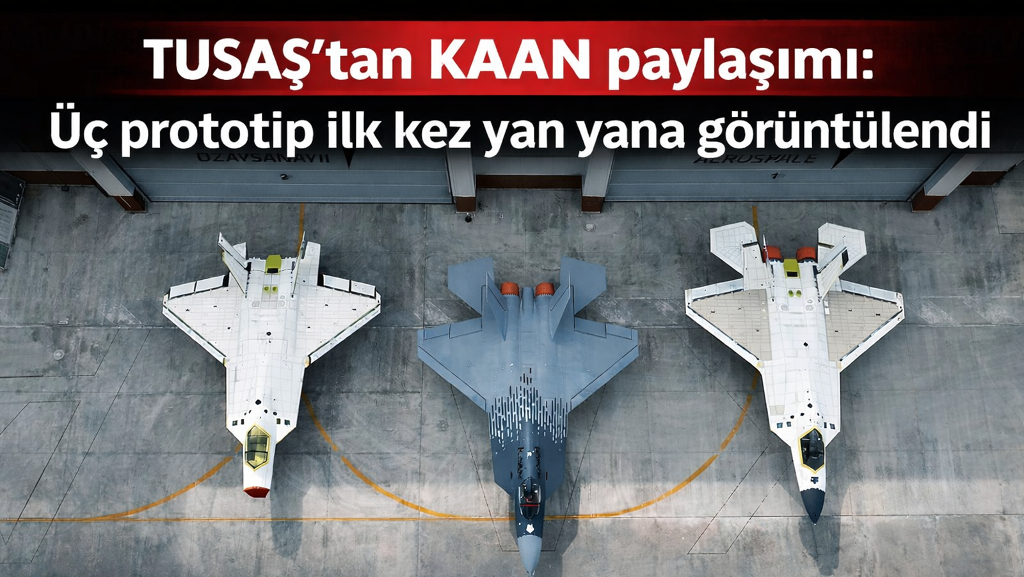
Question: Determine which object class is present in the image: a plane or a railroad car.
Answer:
plane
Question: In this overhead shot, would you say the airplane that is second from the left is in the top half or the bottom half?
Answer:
bottom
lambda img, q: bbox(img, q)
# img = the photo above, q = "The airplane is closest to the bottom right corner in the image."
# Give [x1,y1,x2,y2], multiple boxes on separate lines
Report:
[686,221,907,524]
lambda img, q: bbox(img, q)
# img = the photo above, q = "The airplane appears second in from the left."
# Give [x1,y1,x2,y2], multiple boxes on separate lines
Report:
[417,257,640,577]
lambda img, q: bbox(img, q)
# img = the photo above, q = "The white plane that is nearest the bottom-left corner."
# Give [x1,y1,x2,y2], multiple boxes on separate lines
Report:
[160,229,381,498]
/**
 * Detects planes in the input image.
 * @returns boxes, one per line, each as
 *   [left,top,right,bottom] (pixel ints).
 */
[417,257,640,577]
[686,221,907,524]
[160,229,381,498]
